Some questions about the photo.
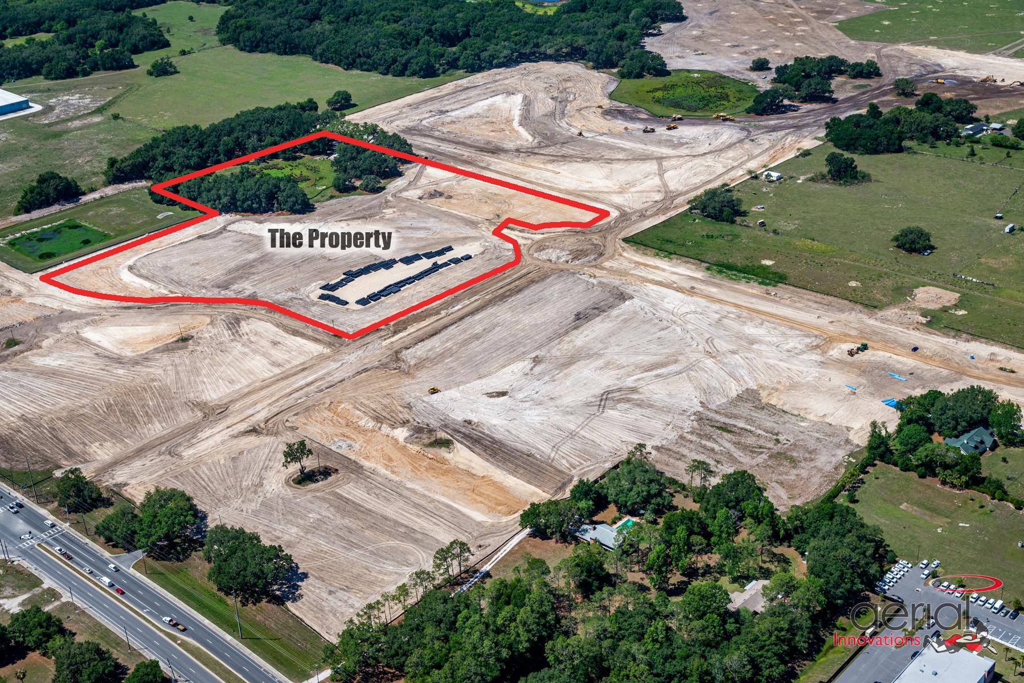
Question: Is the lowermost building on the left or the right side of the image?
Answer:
right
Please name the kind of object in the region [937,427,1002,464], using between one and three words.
house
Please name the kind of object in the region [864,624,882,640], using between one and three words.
vehicle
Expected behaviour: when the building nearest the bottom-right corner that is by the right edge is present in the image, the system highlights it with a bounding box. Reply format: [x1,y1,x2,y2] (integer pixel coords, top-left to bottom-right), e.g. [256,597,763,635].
[897,637,998,683]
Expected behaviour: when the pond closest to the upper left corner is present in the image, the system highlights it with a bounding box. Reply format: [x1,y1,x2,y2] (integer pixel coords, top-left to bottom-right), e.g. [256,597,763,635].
[6,219,115,263]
